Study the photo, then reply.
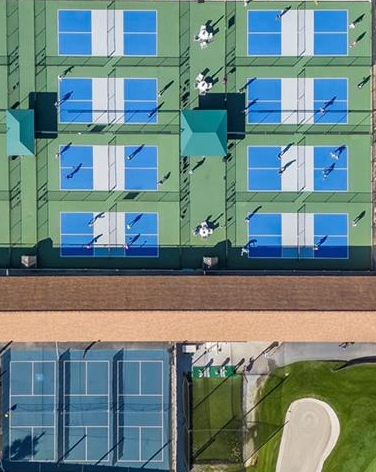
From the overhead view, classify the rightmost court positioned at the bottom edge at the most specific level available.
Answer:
tennis court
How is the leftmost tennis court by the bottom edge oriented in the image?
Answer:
from top to bottom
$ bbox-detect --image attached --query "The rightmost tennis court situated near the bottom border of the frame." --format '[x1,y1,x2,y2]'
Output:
[115,361,166,462]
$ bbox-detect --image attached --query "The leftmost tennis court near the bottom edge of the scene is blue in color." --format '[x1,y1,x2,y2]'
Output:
[6,361,58,462]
